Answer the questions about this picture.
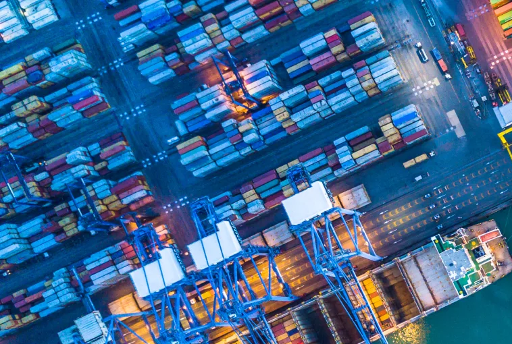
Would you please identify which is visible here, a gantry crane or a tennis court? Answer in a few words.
gantry crane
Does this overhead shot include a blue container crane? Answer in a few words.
Yes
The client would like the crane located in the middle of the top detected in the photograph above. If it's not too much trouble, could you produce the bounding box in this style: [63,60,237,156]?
[209,48,270,113]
